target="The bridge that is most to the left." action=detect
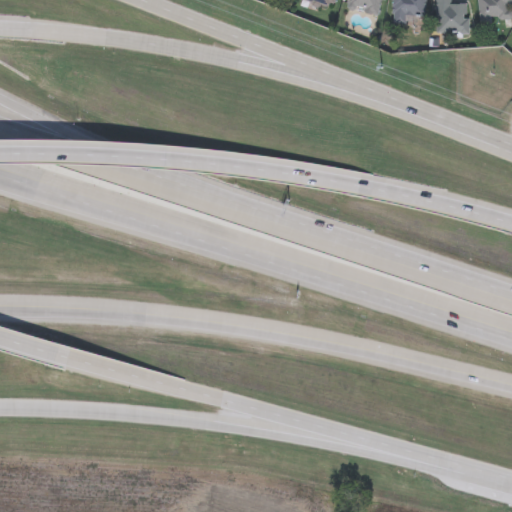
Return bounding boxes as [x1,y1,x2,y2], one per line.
[0,326,66,370]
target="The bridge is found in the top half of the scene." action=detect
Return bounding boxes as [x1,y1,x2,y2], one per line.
[0,139,208,172]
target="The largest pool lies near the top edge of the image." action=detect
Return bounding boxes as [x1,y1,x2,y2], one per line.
[350,14,372,28]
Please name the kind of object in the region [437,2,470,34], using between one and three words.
house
